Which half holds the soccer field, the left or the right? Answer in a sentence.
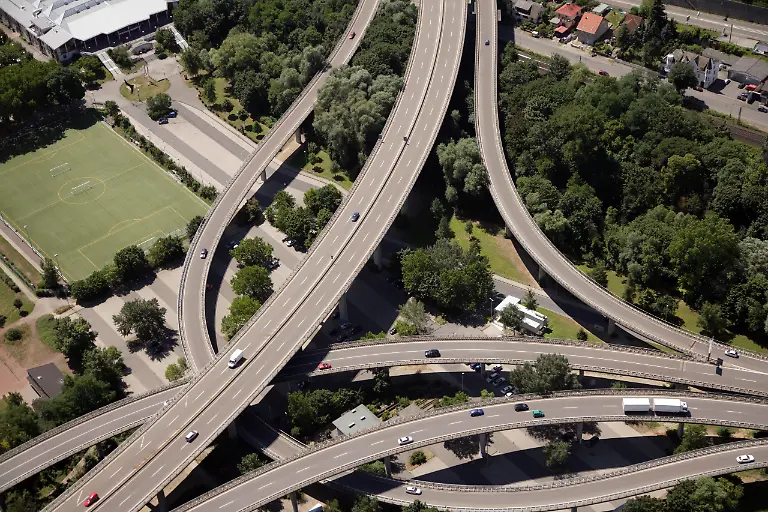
The soccer field appears in the left half of the scene.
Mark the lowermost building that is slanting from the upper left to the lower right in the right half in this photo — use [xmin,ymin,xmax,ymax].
[494,295,547,335]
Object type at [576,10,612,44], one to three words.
house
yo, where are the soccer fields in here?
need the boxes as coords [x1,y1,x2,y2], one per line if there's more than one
[0,107,211,291]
